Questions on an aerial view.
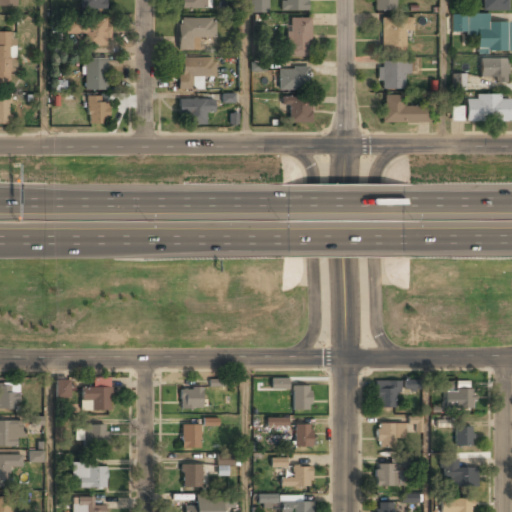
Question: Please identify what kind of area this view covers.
residential area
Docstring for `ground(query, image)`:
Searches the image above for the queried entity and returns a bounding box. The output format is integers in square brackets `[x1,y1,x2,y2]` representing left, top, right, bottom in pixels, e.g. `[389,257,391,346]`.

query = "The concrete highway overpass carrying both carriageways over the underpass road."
[280,183,412,260]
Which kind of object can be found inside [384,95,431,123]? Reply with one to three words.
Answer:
house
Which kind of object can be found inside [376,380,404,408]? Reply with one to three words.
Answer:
house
